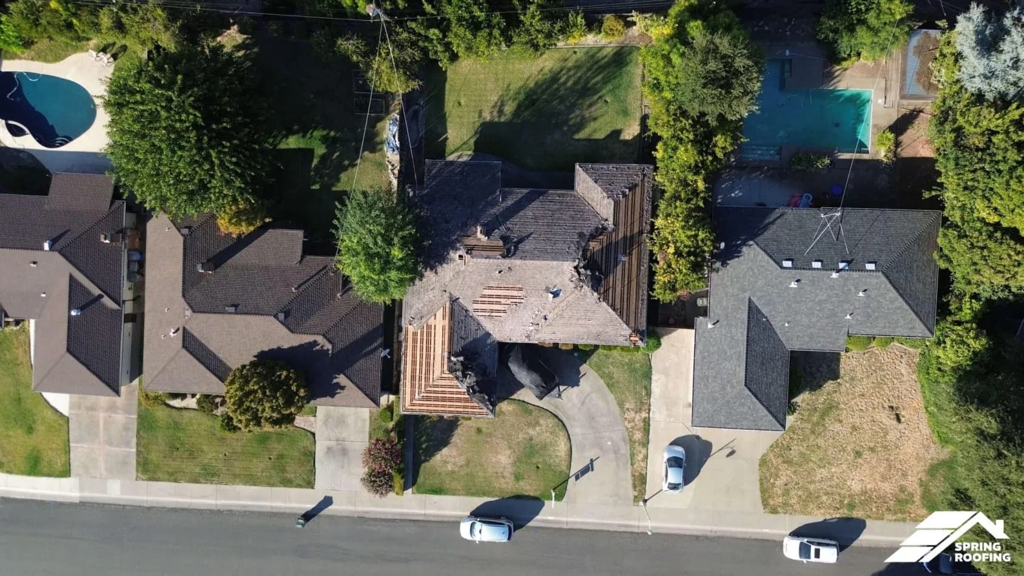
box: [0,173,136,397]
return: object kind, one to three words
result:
house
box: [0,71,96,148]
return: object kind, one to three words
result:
swimming pool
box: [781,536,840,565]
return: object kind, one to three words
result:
car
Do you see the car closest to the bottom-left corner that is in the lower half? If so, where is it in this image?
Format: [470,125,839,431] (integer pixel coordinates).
[459,515,513,544]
